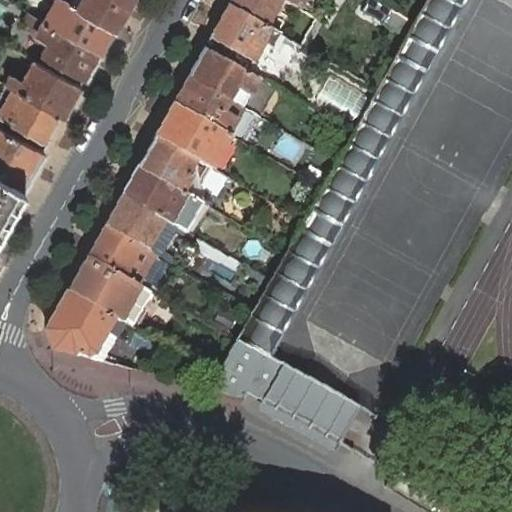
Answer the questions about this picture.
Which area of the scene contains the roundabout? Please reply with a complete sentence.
The roundabout is located in the bottom left region of the scene.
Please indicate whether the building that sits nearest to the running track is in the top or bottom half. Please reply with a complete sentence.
It is in the bottom half that the building that sits nearest to the running track appears.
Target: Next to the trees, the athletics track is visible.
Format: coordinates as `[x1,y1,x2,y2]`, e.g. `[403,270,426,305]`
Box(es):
[424,220,512,410]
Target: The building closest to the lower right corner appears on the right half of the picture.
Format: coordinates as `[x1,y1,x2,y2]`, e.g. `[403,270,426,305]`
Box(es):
[260,362,379,446]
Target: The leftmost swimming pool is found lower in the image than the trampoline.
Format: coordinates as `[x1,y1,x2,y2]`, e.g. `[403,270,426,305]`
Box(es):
[243,240,262,256]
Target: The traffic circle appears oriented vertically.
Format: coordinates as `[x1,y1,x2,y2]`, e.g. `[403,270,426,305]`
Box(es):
[0,390,60,512]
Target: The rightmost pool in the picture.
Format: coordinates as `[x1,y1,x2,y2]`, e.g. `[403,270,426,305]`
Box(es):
[273,131,306,166]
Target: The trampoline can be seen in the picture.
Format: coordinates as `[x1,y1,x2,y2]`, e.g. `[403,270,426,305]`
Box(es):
[233,190,252,209]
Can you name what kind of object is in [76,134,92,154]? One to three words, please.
car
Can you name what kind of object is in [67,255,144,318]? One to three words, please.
house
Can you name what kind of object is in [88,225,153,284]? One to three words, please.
house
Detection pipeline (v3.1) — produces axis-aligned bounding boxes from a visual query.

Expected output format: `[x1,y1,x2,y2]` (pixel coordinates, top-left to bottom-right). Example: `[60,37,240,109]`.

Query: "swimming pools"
[243,240,262,256]
[273,131,306,166]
